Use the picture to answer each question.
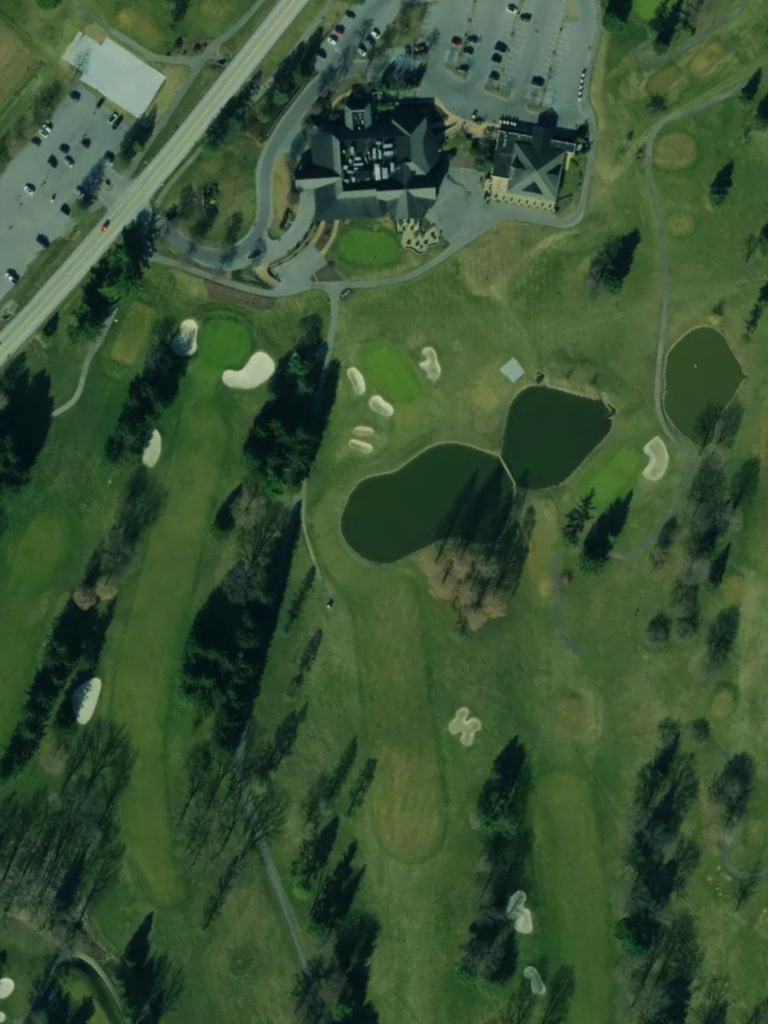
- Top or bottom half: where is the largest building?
top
